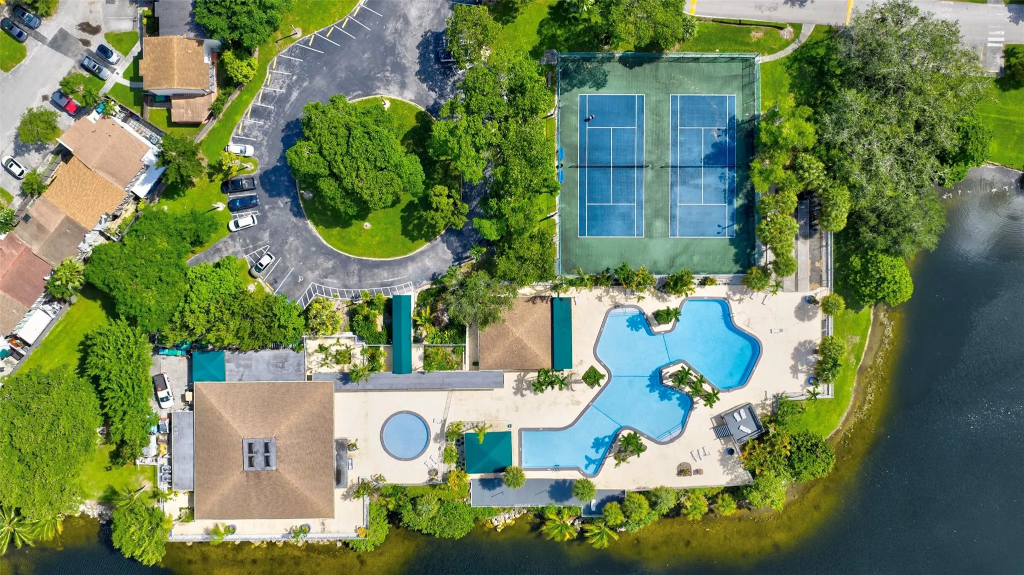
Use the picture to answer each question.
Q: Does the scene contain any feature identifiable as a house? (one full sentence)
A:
Yes, there is a house in the image.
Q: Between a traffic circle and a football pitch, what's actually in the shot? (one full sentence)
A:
Of the two, only a traffic circle appears.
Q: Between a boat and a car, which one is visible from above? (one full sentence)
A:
Looking from above, you can make out a car.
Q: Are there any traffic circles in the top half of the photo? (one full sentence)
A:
Yes, a traffic circle appears in the top half of the photo.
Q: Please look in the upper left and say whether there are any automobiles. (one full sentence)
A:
Yes, an automobile appears in the upper left.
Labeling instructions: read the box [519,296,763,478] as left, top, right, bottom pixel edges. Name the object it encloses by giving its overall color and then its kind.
blue swimming pool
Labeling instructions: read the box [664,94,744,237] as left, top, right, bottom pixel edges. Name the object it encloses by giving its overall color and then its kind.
blue tennis court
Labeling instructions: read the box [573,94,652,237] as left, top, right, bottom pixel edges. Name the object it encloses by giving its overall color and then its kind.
blue tennis court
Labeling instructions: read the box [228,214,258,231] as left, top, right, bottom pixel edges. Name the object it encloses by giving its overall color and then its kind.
white car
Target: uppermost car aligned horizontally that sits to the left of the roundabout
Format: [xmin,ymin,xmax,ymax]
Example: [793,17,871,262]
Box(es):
[226,143,255,157]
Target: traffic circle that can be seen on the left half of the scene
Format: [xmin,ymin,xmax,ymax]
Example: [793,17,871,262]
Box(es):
[295,95,462,259]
